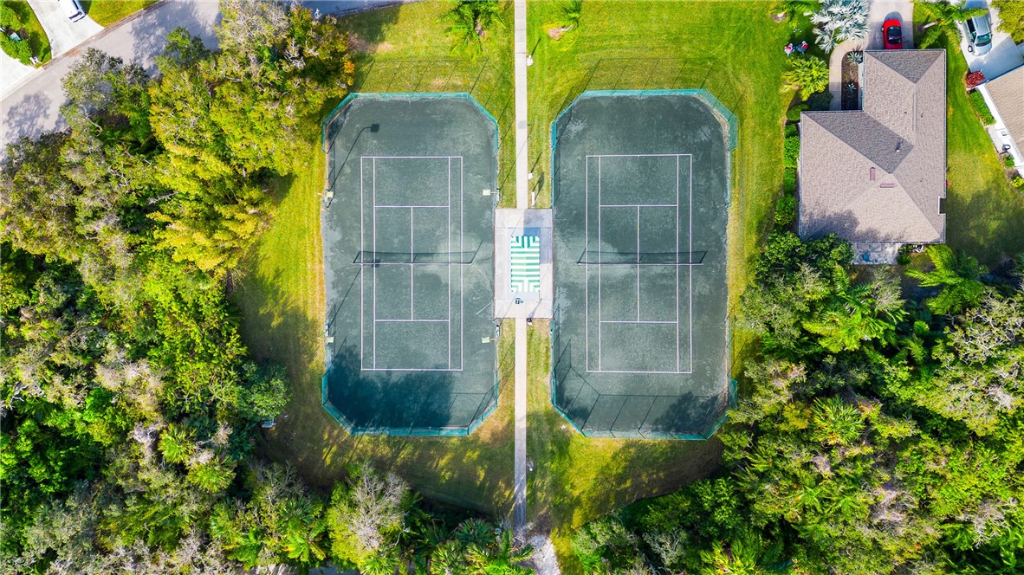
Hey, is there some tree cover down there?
Yes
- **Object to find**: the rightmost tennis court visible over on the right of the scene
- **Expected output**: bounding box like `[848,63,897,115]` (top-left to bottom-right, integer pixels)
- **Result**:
[548,95,728,432]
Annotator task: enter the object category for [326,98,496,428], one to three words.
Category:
tennis court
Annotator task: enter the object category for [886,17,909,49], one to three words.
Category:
car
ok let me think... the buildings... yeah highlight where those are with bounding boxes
[790,49,946,243]
[975,65,1024,200]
